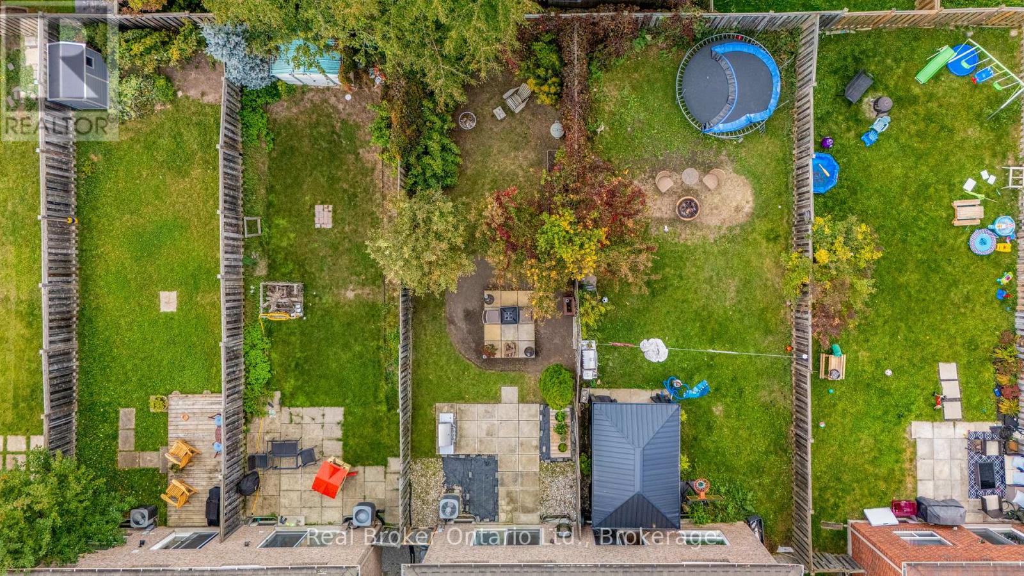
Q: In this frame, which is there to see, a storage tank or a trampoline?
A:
trampoline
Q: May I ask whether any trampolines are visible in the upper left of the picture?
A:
No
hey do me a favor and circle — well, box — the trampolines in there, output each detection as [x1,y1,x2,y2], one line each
[671,31,782,143]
